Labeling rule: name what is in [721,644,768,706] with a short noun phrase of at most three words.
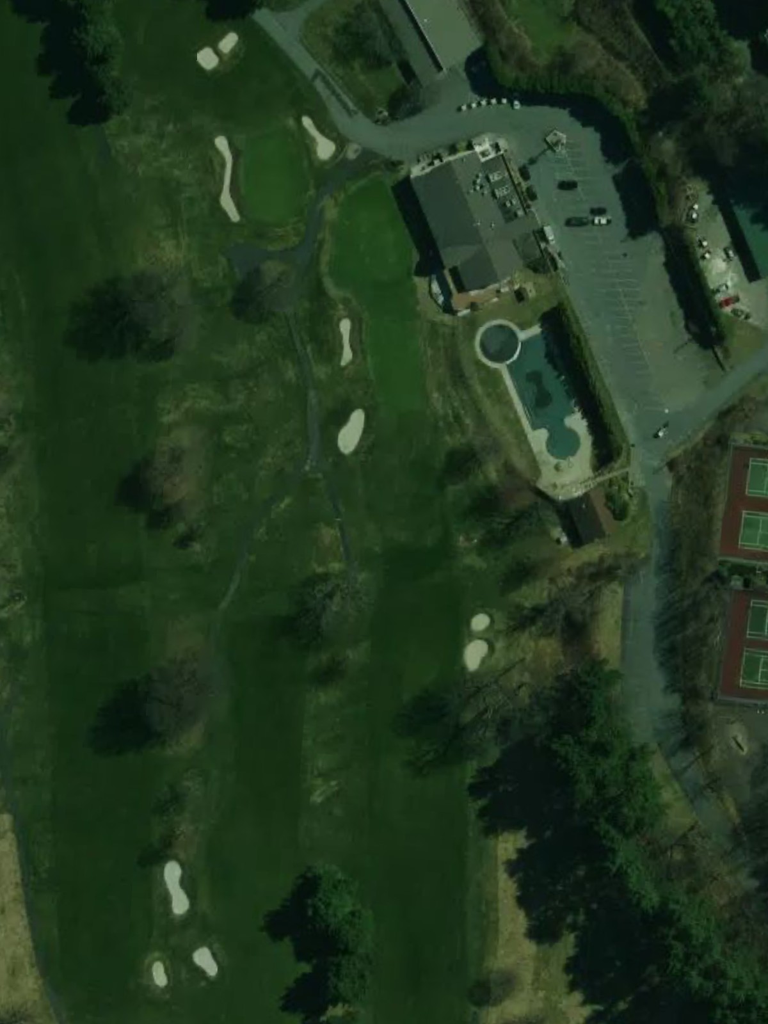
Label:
tennis court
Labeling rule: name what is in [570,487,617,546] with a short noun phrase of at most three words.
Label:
building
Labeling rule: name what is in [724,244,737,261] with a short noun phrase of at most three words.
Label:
vehicle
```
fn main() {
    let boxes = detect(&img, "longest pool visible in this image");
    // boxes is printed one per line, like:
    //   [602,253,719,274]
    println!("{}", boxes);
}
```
[502,325,598,502]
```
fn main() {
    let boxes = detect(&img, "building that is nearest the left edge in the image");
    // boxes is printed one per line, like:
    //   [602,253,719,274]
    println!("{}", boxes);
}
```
[406,0,483,69]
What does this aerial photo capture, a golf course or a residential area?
golf course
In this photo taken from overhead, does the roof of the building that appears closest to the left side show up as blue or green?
green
